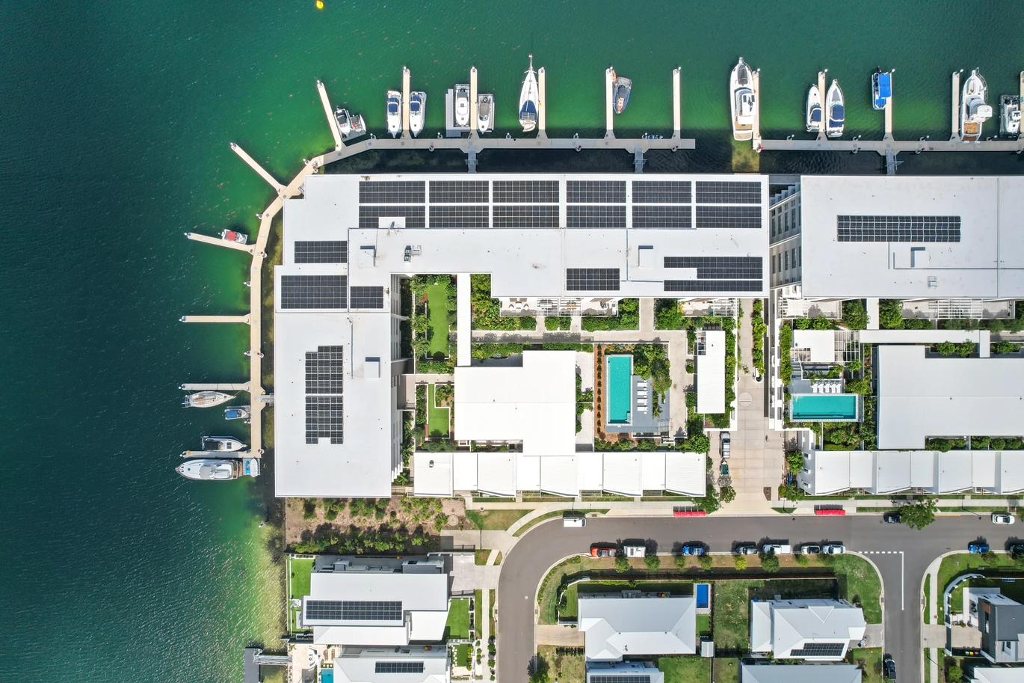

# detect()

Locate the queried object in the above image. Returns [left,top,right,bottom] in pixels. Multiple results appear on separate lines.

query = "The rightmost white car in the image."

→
[990,513,1015,525]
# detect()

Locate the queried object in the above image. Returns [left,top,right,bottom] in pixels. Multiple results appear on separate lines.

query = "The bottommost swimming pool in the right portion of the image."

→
[696,583,710,613]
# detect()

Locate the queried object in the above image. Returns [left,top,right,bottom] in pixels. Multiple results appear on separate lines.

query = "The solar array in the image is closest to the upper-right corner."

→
[838,216,961,242]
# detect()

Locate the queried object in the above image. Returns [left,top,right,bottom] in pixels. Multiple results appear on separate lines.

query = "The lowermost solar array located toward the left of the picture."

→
[375,661,424,674]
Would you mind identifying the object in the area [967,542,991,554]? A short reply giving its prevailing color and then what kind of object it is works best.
blue vehicle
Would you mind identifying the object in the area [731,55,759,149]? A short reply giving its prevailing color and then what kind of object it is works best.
white boat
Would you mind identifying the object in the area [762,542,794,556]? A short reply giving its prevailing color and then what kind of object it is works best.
white car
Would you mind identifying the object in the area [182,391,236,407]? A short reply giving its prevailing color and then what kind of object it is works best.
white boat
